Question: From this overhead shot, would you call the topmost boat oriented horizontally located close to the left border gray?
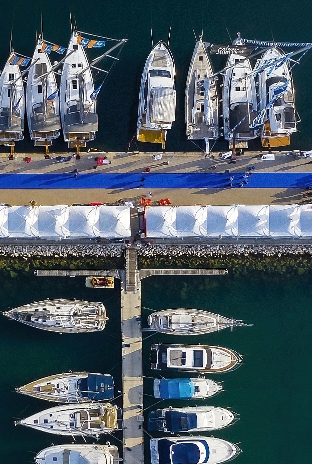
Yes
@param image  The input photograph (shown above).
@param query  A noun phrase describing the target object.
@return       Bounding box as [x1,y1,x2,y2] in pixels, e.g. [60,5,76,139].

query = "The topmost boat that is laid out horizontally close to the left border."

[3,298,105,335]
